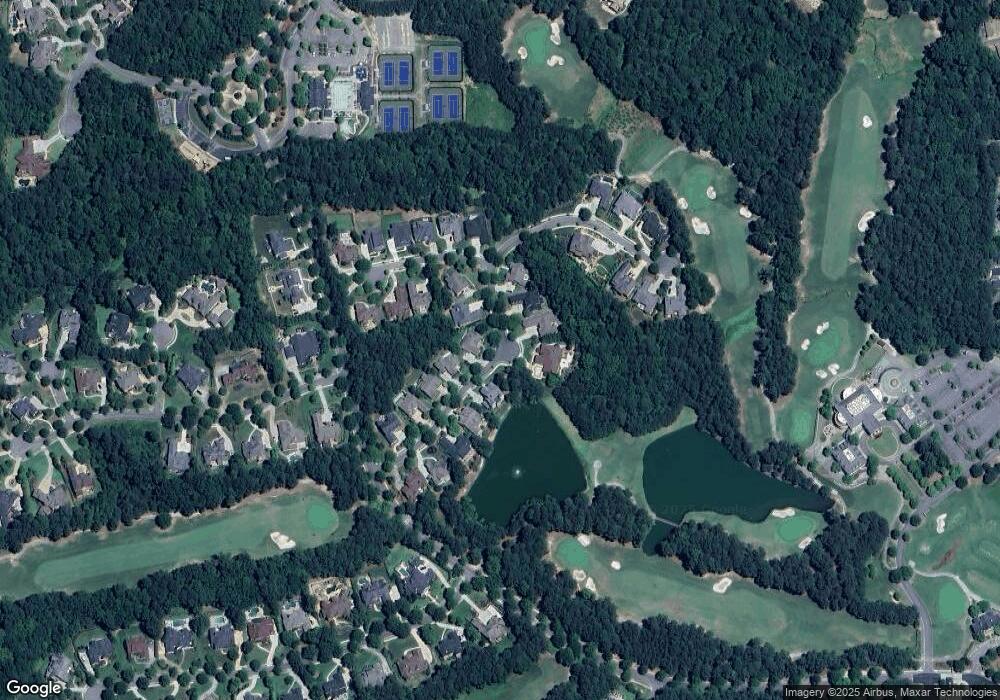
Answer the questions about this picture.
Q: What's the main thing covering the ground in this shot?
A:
trees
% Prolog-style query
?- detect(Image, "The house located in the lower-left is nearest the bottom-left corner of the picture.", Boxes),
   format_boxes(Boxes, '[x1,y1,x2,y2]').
[45,654,74,681]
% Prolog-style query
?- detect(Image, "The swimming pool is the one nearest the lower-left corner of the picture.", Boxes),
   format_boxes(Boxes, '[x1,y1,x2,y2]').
[163,615,193,629]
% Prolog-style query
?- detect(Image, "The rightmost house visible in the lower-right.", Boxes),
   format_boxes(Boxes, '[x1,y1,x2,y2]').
[967,608,1000,643]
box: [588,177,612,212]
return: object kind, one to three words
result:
house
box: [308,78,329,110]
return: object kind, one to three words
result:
building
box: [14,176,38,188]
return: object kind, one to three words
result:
swimming pool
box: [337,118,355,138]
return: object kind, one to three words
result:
swimming pool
